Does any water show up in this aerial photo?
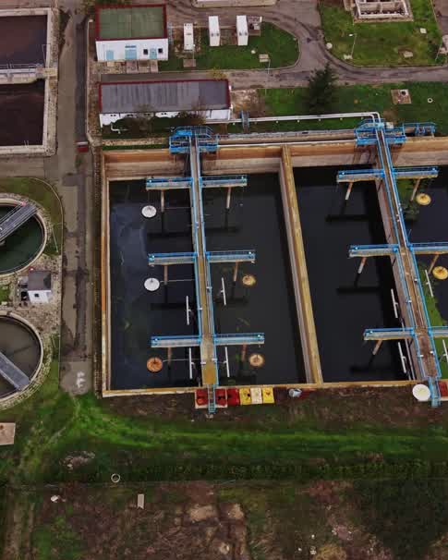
Yes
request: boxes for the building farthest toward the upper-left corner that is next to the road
[96,3,169,72]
